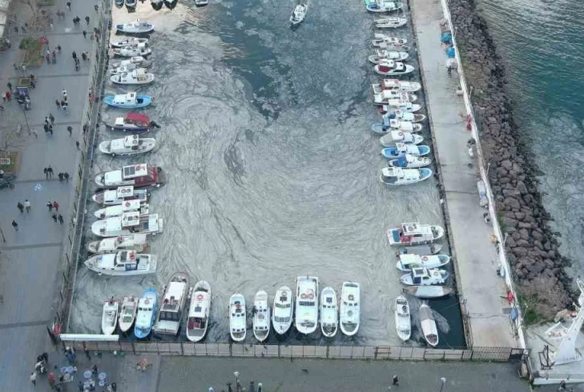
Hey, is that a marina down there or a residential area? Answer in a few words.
marina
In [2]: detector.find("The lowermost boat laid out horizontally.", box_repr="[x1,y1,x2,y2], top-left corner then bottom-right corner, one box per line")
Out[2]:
[403,283,453,302]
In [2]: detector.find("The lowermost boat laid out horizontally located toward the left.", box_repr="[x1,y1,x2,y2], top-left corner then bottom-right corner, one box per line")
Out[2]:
[82,248,159,281]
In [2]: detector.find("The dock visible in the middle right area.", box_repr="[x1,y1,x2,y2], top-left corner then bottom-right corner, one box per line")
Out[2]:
[405,0,521,356]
